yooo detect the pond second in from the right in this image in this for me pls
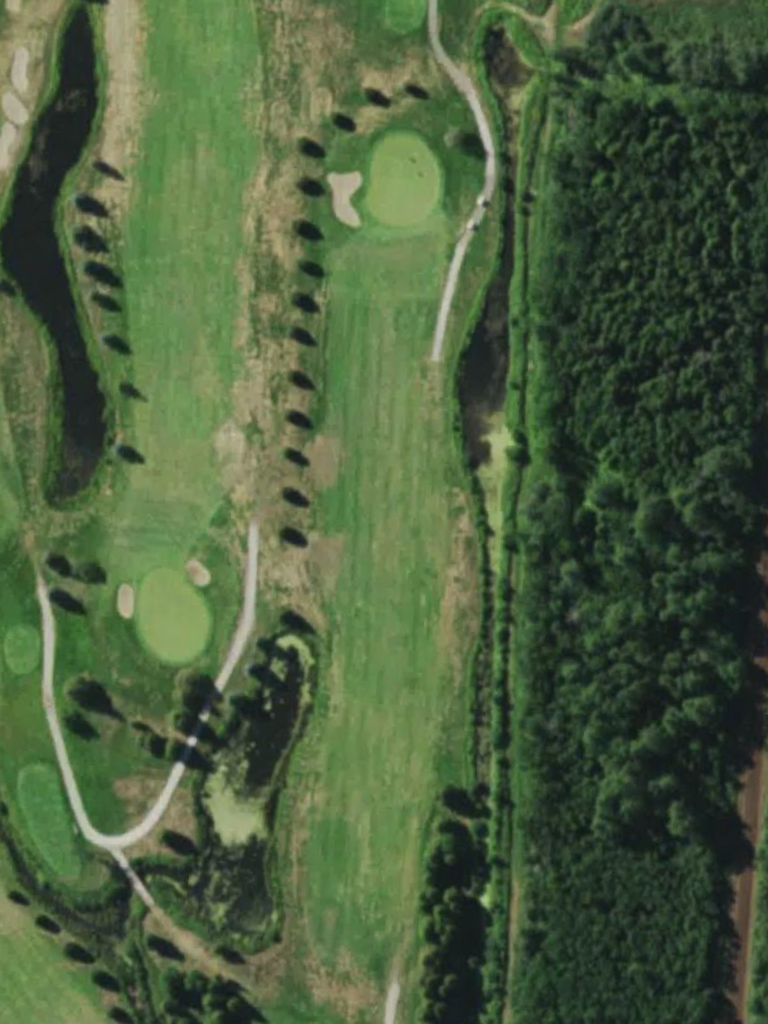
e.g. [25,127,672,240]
[204,634,316,850]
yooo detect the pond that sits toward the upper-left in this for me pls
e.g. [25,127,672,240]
[0,7,106,500]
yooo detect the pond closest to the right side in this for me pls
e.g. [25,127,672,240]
[457,29,529,595]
